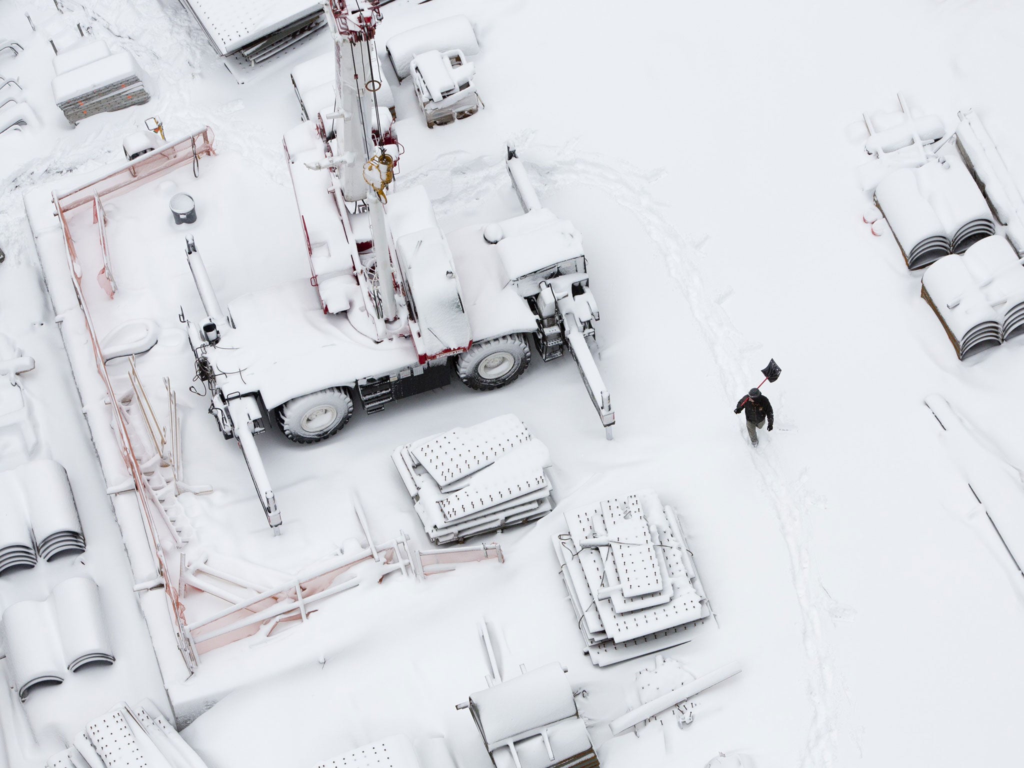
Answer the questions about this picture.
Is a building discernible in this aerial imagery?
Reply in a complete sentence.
No, the picture doesn't show any building.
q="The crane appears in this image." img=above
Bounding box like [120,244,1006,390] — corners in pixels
[179,0,617,546]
